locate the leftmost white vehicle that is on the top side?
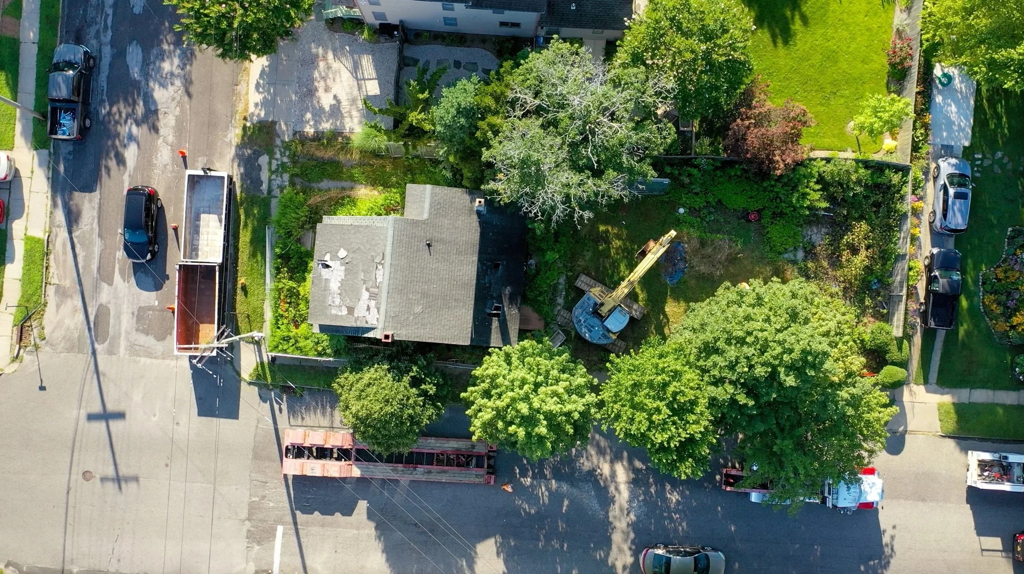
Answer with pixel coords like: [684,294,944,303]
[0,151,22,183]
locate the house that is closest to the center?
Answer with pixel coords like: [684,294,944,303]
[308,184,544,347]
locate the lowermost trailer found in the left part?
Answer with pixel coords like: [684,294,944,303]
[278,427,495,488]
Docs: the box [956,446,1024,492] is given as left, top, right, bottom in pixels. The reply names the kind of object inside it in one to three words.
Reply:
truck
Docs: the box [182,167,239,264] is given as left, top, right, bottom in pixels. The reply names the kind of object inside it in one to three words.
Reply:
trailer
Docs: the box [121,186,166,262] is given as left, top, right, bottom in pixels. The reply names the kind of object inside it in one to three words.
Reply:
car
